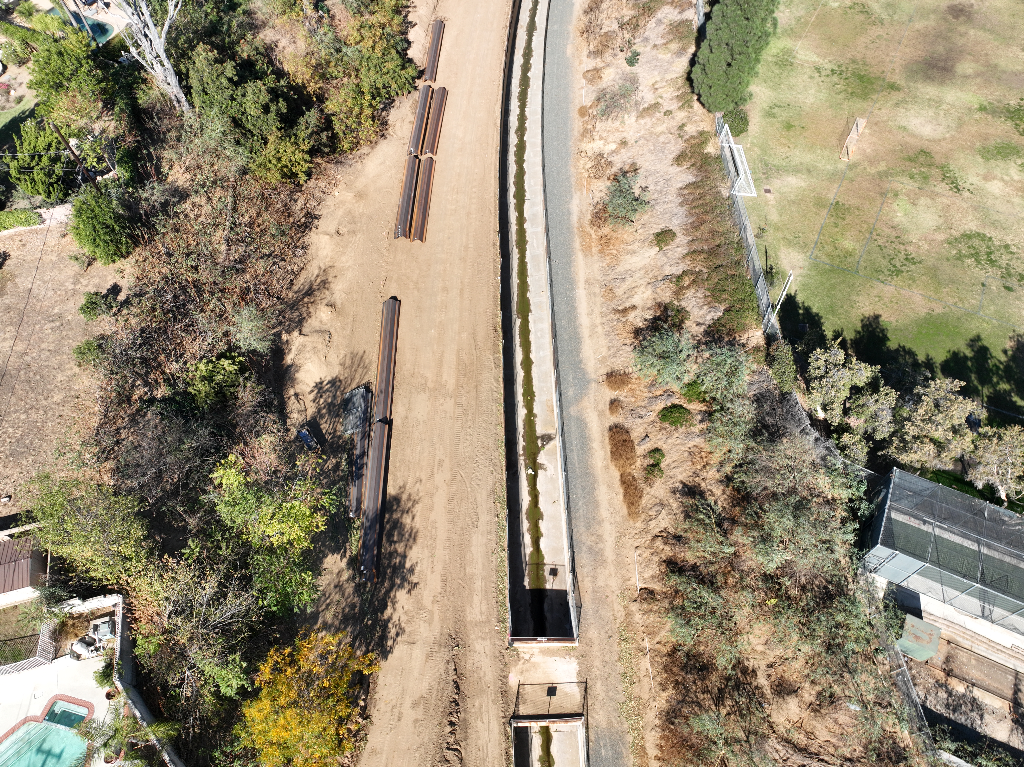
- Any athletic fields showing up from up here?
Yes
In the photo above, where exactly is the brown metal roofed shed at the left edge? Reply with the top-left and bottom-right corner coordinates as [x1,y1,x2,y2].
[0,532,49,598]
